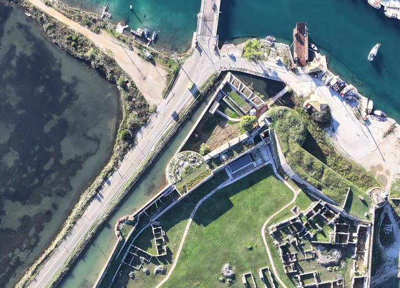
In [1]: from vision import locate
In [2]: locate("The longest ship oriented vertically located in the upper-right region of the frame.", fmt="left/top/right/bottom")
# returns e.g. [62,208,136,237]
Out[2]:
[293,23,308,67]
